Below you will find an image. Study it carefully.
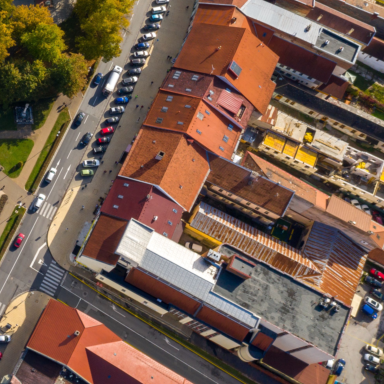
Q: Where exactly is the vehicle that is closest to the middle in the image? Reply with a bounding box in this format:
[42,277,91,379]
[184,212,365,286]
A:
[184,241,202,254]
